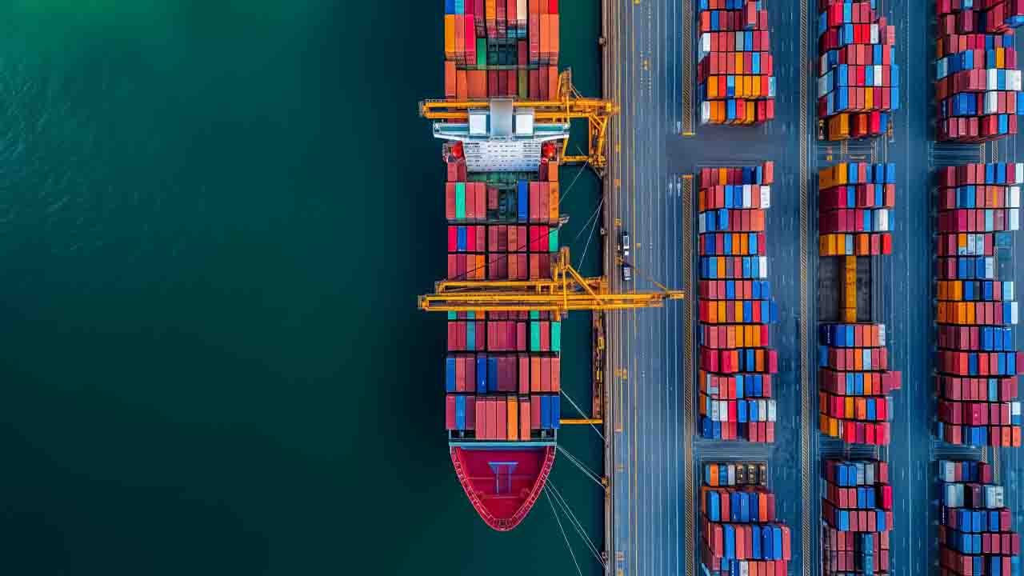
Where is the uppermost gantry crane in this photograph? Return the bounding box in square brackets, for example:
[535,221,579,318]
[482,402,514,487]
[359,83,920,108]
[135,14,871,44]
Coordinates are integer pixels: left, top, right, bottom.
[419,67,618,177]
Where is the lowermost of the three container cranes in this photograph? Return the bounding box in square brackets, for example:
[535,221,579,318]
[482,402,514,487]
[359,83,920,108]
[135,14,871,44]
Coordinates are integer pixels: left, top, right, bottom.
[417,262,685,323]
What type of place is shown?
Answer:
port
